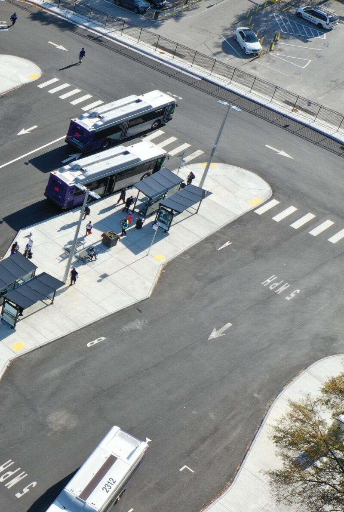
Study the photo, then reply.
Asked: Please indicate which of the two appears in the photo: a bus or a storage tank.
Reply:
bus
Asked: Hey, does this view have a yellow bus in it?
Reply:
No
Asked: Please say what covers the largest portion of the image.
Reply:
paved ground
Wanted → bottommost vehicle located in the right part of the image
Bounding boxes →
[233,29,261,54]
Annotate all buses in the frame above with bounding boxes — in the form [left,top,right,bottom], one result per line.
[43,138,170,211]
[63,89,178,154]
[45,427,154,512]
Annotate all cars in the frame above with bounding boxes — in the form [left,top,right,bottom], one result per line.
[233,29,261,54]
[112,0,153,13]
[146,0,169,9]
[297,3,341,29]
